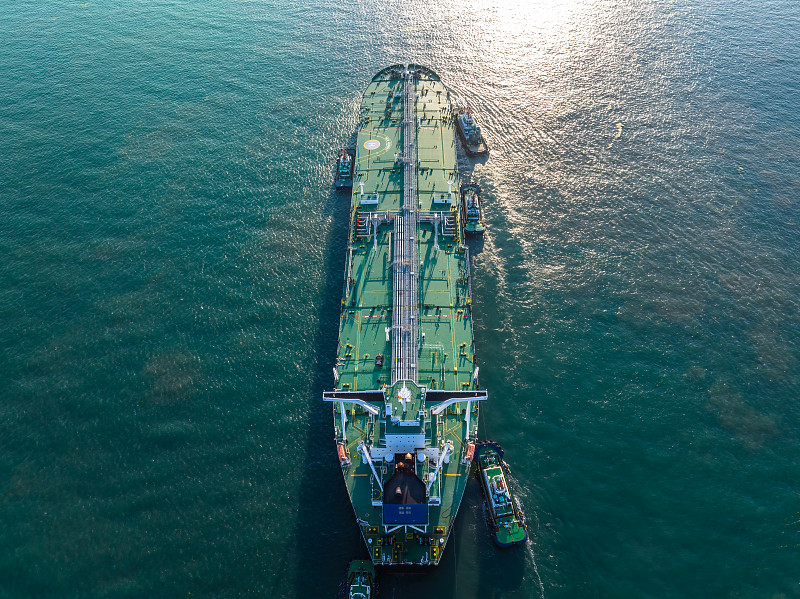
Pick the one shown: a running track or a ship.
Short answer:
ship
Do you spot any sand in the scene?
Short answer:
No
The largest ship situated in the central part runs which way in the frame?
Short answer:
up and down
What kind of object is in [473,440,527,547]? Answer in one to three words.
boat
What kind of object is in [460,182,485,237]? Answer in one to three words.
boat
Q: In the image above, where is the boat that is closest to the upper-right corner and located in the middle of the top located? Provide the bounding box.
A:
[455,110,488,158]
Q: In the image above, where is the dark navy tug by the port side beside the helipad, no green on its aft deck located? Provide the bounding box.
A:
[334,146,355,191]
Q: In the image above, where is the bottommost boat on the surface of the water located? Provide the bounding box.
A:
[345,557,378,599]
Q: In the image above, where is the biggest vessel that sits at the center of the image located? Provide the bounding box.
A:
[322,59,491,564]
